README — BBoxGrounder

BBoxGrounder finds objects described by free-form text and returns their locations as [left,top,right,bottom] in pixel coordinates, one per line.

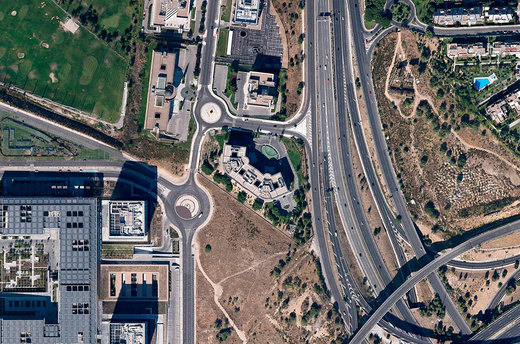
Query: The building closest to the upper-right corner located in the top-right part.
[486,7,514,24]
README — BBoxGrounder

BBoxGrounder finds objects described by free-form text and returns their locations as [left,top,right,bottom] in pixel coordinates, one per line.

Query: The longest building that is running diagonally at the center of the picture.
[221,142,288,199]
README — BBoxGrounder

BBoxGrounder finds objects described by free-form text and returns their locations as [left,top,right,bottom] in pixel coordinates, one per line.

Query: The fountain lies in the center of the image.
[261,144,279,159]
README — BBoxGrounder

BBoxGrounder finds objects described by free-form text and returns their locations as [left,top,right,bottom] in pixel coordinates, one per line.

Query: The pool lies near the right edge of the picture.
[474,73,498,90]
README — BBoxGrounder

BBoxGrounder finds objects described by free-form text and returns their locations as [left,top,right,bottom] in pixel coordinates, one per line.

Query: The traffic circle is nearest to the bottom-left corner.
[164,183,211,229]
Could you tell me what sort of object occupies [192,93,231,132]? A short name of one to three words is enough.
roundabout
